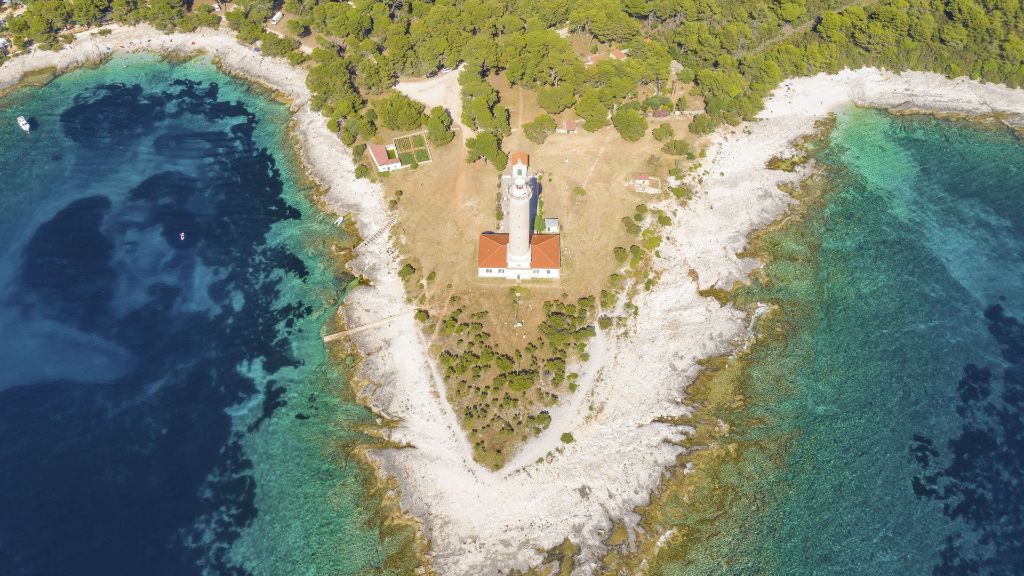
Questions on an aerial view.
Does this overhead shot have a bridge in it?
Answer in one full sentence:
No, the frame has no bridge in it.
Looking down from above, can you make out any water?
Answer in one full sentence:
Yes, the picture does contain water.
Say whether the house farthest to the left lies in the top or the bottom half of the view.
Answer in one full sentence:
Seen from above, the house farthest to the left lies in the top half of the view.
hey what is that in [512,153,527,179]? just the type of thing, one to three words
building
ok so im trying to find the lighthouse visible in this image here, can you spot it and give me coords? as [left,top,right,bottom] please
[478,178,560,283]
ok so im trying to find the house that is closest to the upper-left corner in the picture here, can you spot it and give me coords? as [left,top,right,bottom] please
[373,138,403,172]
